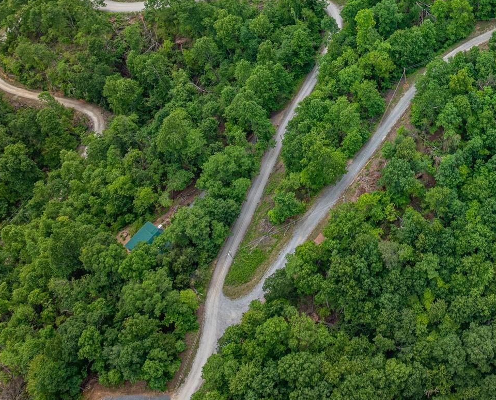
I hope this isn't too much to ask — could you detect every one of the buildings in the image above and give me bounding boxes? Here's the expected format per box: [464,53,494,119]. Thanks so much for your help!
[312,233,329,249]
[122,221,171,257]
